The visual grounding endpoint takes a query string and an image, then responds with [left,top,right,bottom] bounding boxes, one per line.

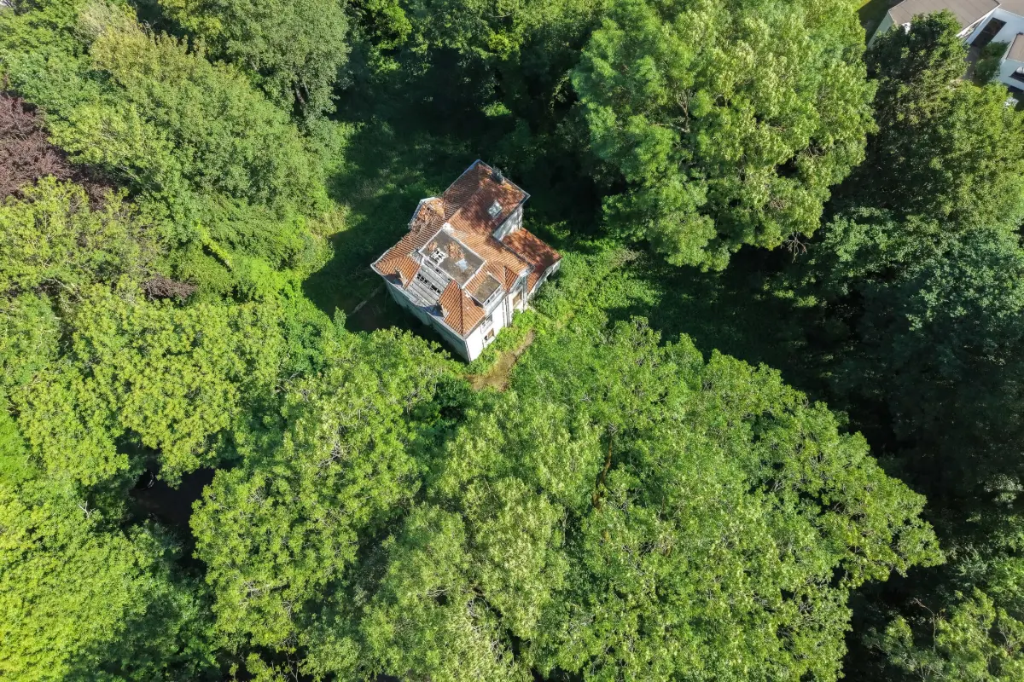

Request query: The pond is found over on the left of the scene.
[136,465,223,553]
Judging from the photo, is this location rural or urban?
rural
